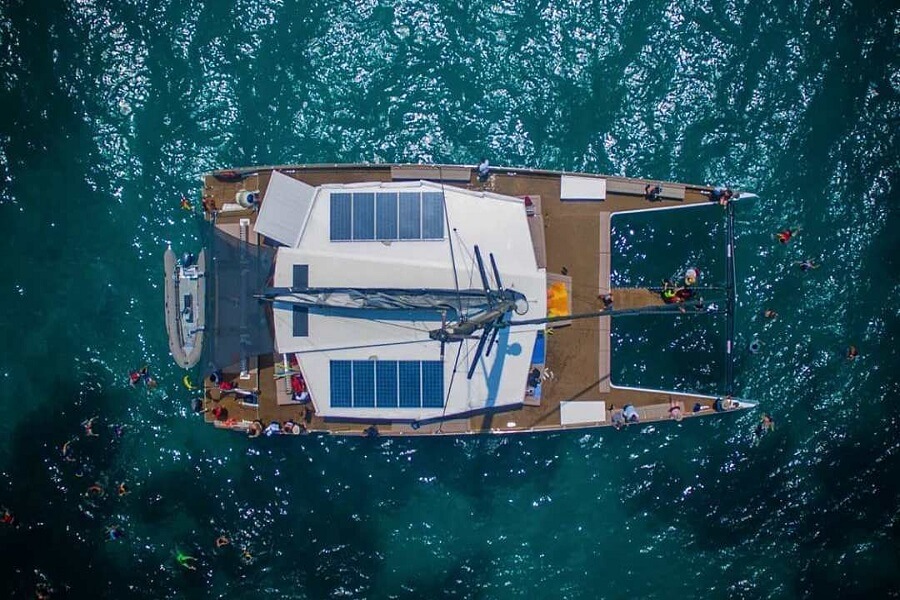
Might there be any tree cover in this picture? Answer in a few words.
No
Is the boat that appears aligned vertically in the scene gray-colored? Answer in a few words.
Yes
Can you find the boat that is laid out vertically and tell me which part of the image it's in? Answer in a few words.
left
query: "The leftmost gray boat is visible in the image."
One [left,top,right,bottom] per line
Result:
[165,243,205,366]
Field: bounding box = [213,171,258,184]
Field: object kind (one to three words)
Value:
boat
